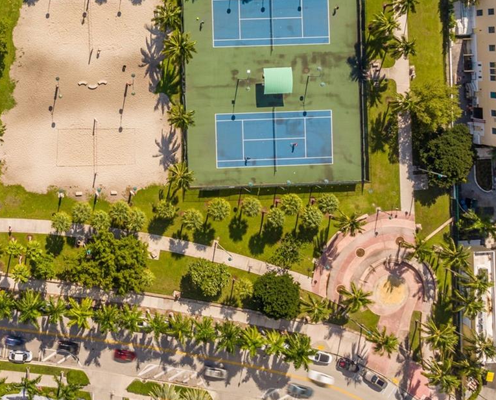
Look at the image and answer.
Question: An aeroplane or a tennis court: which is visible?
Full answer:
This aerial view contains a tennis court.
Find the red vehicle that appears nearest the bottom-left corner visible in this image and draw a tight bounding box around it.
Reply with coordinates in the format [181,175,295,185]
[113,349,137,362]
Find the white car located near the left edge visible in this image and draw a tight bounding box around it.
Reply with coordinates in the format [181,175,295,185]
[8,351,30,363]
